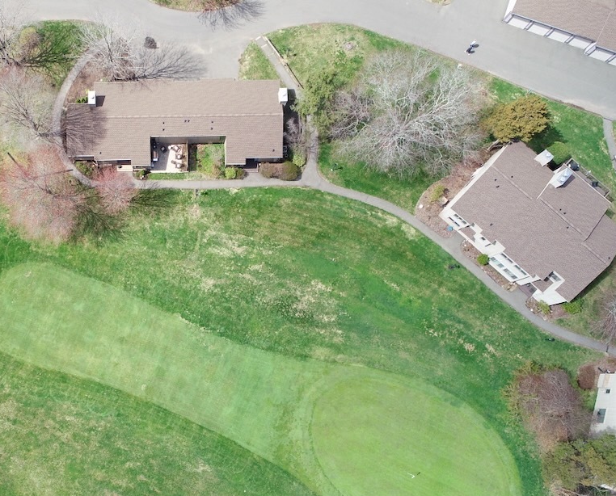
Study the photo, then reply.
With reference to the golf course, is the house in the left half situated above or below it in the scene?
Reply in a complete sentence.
Relative to the golf course, the house in the left half lies above it.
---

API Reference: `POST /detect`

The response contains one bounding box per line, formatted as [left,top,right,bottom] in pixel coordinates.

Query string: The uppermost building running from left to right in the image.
[503,0,613,46]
